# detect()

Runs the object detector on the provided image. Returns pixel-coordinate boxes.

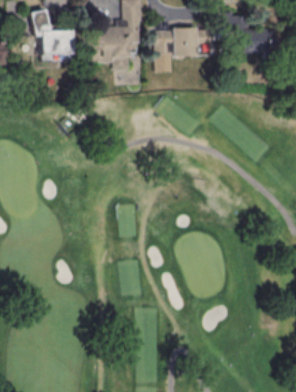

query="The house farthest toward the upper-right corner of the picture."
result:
[155,27,205,72]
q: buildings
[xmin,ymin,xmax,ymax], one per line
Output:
[0,42,8,66]
[155,27,205,72]
[90,0,143,85]
[30,7,76,60]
